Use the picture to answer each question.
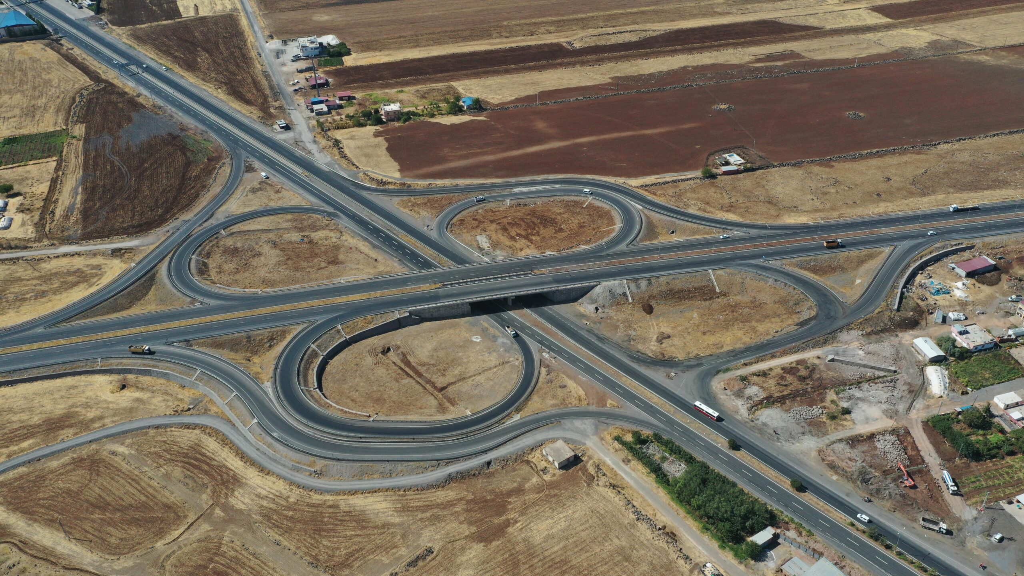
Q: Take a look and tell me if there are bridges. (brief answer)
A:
Yes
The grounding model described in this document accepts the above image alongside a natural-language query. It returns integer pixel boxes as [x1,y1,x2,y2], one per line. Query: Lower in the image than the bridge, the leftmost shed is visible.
[543,440,575,466]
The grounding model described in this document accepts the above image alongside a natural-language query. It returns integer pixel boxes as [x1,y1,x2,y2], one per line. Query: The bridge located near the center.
[341,248,596,323]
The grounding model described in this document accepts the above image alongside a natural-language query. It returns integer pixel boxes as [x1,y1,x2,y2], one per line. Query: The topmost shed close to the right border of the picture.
[952,256,996,279]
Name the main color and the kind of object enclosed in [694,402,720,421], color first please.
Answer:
white vehicle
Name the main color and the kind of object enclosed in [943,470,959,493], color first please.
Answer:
white vehicle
